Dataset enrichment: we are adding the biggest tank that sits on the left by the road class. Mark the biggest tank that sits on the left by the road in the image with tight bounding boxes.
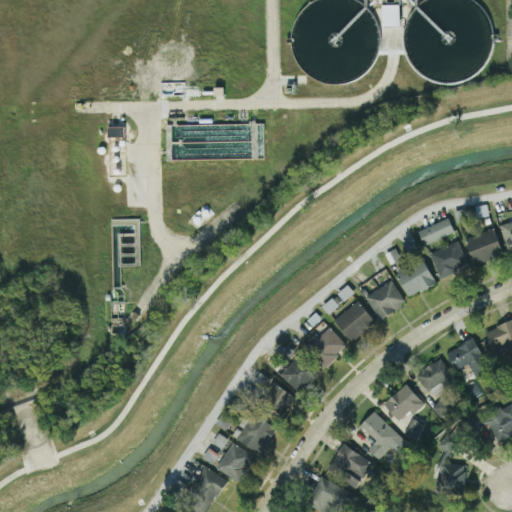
[111,218,141,288]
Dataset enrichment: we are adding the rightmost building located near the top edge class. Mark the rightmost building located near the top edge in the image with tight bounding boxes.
[382,3,400,26]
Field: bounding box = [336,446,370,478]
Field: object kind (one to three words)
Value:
house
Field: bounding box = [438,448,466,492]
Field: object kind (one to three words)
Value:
house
